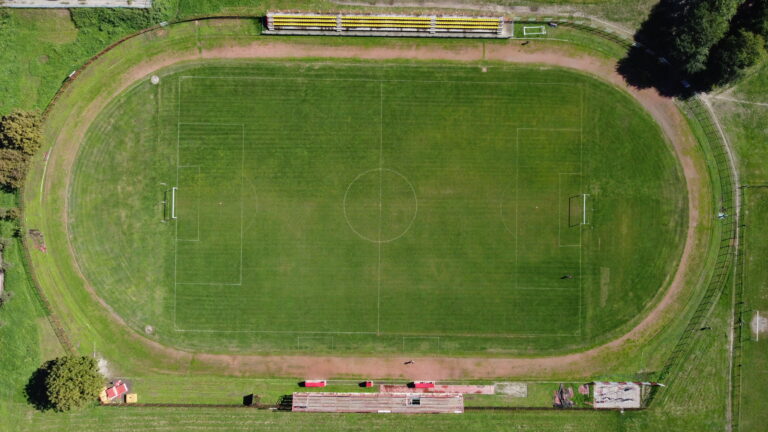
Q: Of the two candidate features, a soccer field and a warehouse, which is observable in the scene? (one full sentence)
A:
It is a soccer field that can be seen here.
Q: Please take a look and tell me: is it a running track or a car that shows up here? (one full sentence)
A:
Visible in the photo is a running track.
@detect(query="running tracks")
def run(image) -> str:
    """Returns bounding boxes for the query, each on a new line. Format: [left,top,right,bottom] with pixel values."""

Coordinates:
[42,35,713,381]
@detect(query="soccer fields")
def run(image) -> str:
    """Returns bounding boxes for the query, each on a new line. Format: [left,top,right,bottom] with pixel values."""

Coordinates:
[68,62,687,356]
